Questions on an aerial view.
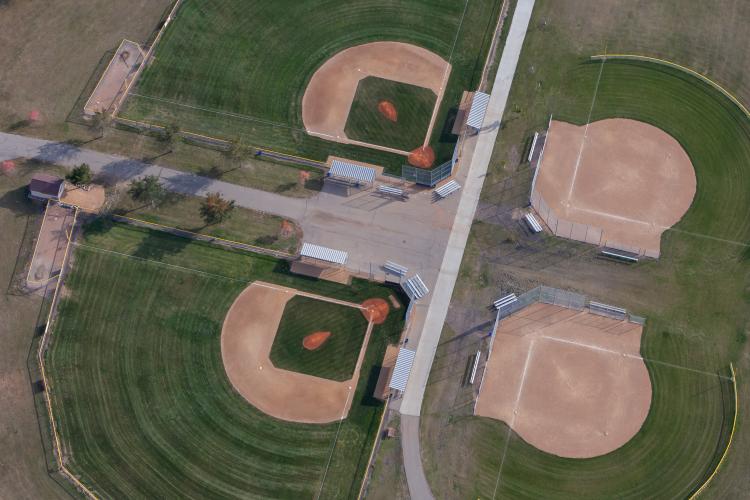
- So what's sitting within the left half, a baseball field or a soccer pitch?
baseball field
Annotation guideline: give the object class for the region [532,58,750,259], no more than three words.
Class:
baseball field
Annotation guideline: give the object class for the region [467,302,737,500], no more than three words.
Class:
baseball field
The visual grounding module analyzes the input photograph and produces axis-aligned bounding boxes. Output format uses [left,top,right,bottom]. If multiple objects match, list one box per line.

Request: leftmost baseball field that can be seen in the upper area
[116,0,503,184]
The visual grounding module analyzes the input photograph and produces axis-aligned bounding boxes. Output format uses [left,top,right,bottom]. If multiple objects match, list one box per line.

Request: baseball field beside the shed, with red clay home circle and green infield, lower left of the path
[40,213,410,500]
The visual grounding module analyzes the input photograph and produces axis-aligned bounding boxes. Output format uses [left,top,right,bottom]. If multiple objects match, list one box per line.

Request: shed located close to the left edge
[29,175,63,200]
